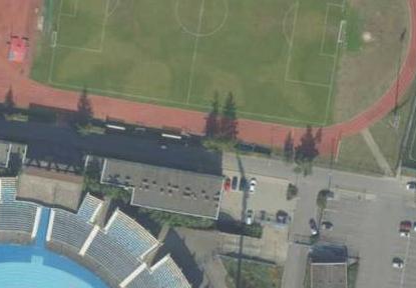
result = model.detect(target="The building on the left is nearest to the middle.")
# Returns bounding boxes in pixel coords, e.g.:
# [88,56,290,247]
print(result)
[101,158,223,220]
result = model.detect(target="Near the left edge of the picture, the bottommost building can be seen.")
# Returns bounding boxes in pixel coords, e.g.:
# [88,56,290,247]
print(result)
[16,160,86,215]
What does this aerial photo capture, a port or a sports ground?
sports ground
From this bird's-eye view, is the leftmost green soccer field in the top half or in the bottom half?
top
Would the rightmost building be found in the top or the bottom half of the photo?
bottom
